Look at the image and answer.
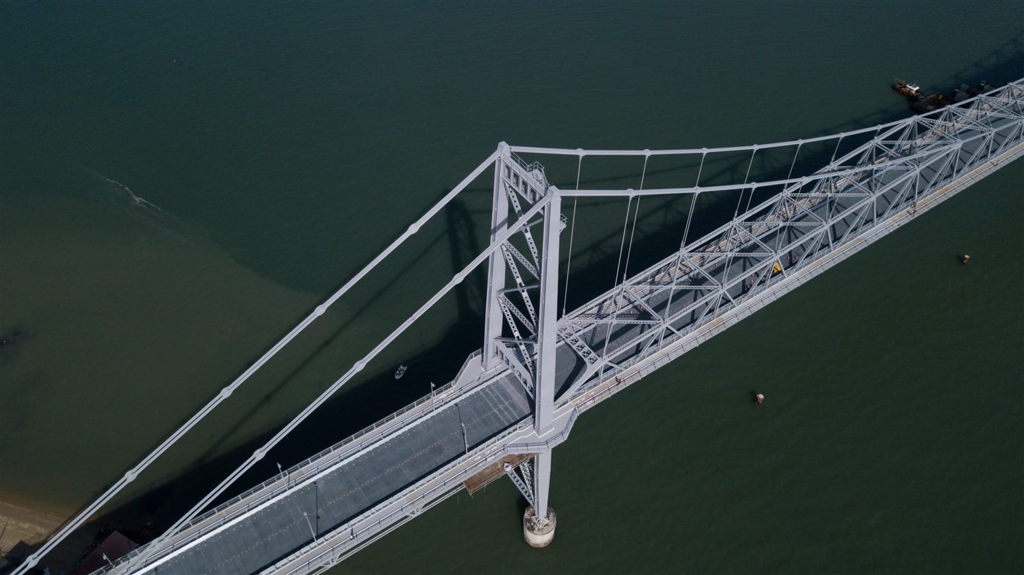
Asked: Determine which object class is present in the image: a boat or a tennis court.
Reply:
boat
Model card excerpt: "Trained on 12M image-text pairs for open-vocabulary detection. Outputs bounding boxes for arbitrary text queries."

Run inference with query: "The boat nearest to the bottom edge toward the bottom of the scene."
[392,361,408,378]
